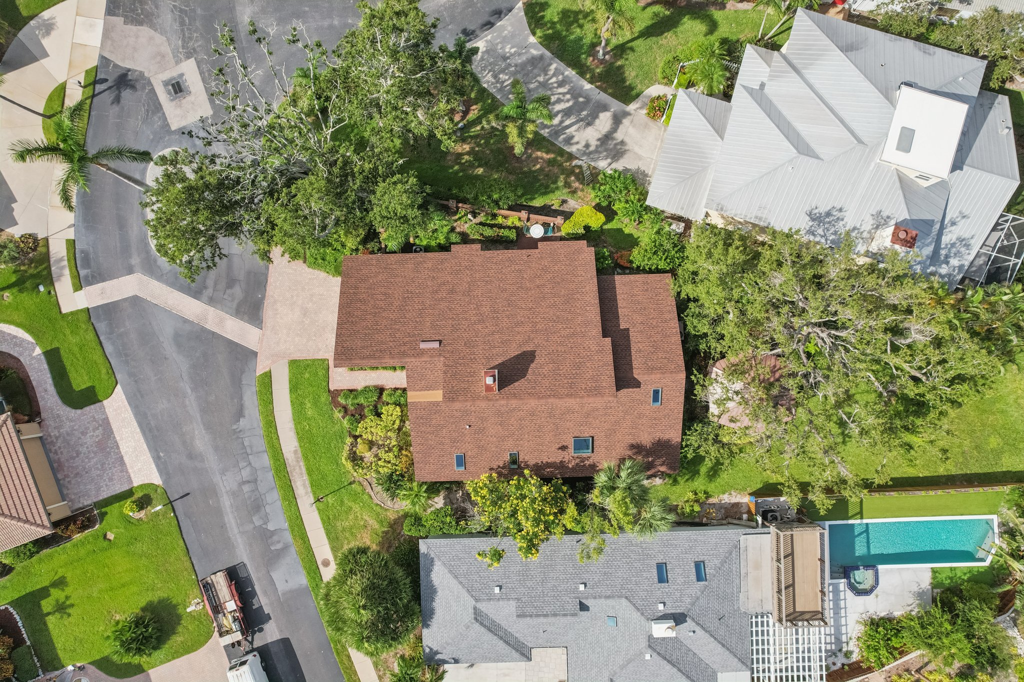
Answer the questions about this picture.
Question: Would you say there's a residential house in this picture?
Yes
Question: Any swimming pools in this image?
Yes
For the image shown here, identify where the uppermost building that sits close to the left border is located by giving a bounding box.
[0,408,70,553]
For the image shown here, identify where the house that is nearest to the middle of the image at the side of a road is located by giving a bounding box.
[334,240,686,481]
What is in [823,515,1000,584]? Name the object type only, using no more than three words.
swimming pool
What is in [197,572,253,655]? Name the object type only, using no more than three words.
trailer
